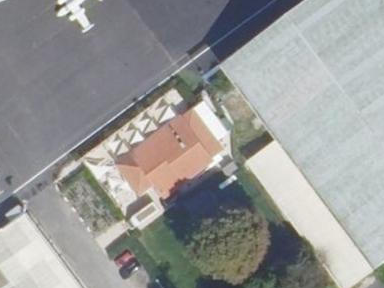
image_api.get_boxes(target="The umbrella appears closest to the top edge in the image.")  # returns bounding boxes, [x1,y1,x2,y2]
[162,86,183,108]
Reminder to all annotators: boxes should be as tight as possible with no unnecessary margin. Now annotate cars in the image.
[119,261,140,277]
[114,252,134,267]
